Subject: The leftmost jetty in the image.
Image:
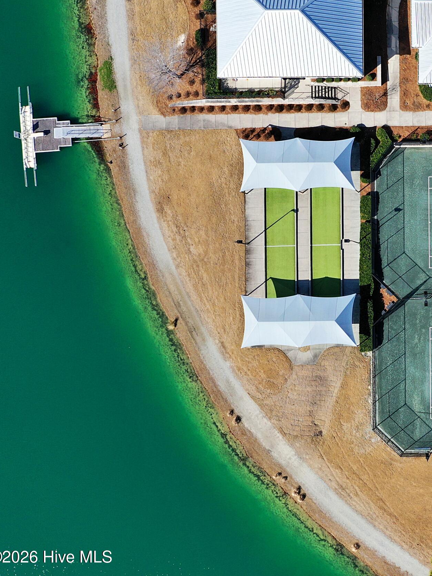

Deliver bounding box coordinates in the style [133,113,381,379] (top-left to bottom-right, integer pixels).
[32,117,74,153]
